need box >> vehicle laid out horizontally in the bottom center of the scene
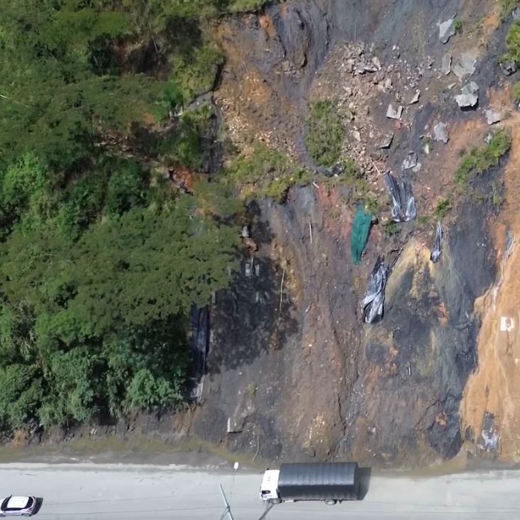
[261,464,362,504]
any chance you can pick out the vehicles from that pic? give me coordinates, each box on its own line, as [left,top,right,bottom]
[261,464,362,504]
[0,493,38,517]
